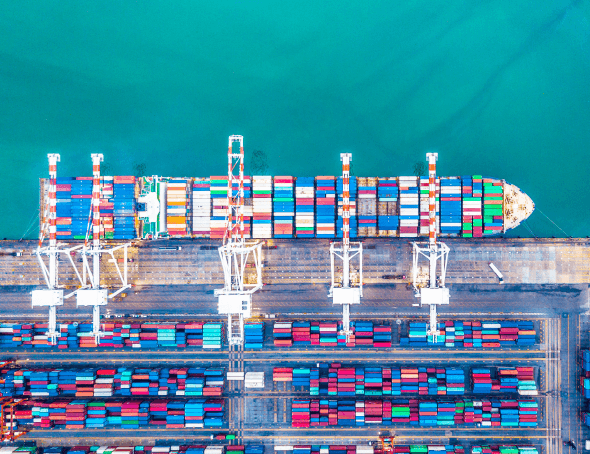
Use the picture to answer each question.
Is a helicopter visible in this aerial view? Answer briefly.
No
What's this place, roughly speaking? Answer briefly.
port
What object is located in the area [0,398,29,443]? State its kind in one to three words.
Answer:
container crane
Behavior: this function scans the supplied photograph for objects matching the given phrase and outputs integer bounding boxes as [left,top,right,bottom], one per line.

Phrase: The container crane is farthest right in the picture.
[406,152,451,345]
